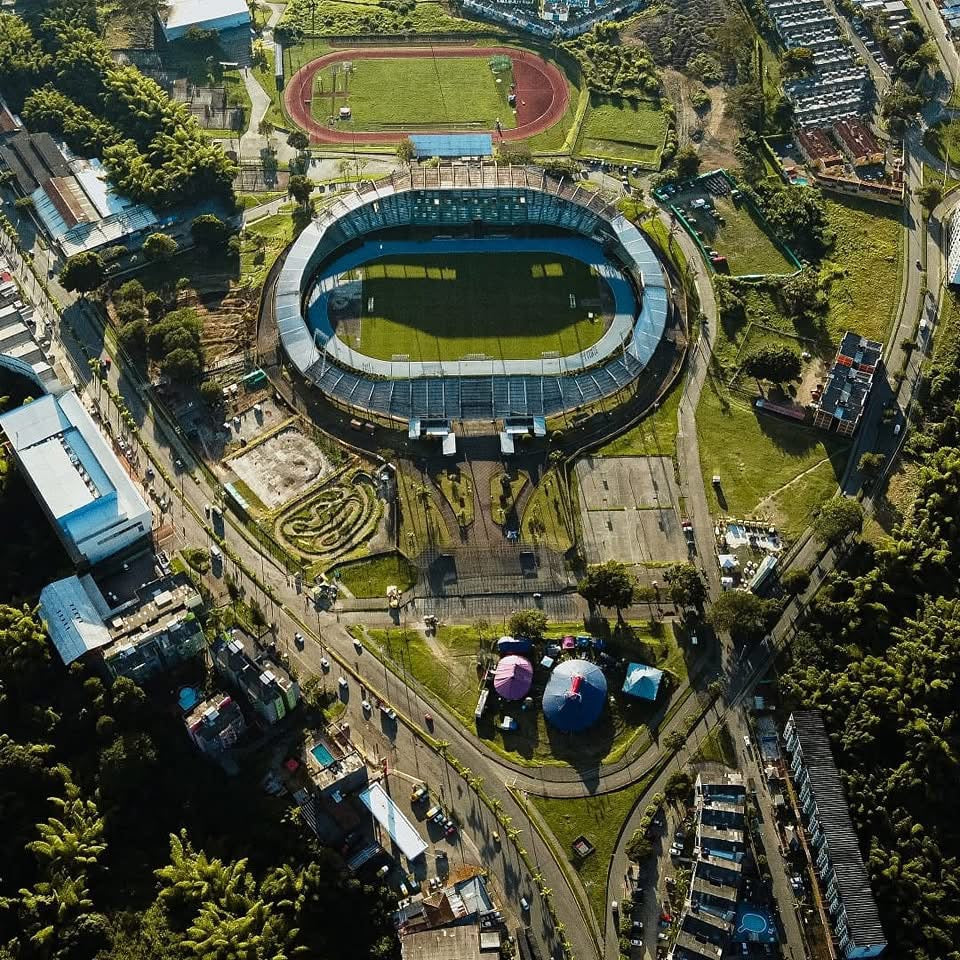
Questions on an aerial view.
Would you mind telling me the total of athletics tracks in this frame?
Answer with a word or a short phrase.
two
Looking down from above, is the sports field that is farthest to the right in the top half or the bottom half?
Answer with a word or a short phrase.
top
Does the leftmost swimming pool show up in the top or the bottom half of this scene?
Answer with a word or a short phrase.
bottom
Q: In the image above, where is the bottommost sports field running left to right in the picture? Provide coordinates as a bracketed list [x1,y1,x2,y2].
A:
[356,256,606,360]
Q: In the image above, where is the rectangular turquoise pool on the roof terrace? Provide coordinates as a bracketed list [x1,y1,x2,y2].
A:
[307,738,340,774]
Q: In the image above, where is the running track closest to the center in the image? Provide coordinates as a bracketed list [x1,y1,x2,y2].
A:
[307,236,637,376]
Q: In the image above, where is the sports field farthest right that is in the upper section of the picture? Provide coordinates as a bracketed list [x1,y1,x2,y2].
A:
[574,92,668,170]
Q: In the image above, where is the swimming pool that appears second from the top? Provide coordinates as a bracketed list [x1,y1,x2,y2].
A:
[173,697,196,717]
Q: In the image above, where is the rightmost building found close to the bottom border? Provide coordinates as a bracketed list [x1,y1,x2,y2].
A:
[769,710,888,960]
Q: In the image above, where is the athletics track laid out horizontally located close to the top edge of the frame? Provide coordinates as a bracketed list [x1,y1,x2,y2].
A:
[285,41,570,142]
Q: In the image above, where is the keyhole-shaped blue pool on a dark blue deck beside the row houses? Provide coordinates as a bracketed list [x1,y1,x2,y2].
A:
[731,905,778,943]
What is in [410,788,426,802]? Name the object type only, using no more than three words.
vehicle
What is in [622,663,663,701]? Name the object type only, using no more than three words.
tent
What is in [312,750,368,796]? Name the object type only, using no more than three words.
house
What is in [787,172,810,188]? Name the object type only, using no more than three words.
swimming pool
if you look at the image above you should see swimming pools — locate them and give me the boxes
[731,905,778,943]
[173,697,196,717]
[307,738,340,774]
[787,172,810,188]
